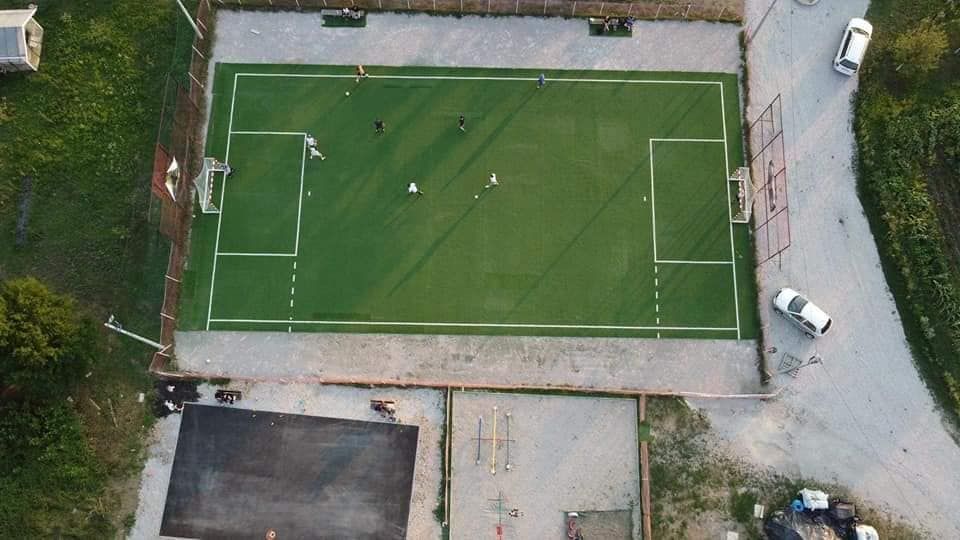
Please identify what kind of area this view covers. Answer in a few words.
sports ground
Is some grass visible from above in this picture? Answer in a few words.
Yes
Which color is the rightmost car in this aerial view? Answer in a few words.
white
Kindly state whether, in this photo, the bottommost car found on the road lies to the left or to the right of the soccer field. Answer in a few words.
right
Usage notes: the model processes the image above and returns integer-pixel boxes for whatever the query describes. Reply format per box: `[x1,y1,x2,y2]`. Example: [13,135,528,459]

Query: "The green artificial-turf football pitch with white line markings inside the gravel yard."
[176,64,758,339]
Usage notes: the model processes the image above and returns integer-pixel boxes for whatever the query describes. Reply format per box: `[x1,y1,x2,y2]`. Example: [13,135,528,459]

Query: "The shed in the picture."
[0,1,45,71]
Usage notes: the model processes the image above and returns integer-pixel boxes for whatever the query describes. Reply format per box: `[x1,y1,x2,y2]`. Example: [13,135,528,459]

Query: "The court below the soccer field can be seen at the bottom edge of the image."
[159,401,419,540]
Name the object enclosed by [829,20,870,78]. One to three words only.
car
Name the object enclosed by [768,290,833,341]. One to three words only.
car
